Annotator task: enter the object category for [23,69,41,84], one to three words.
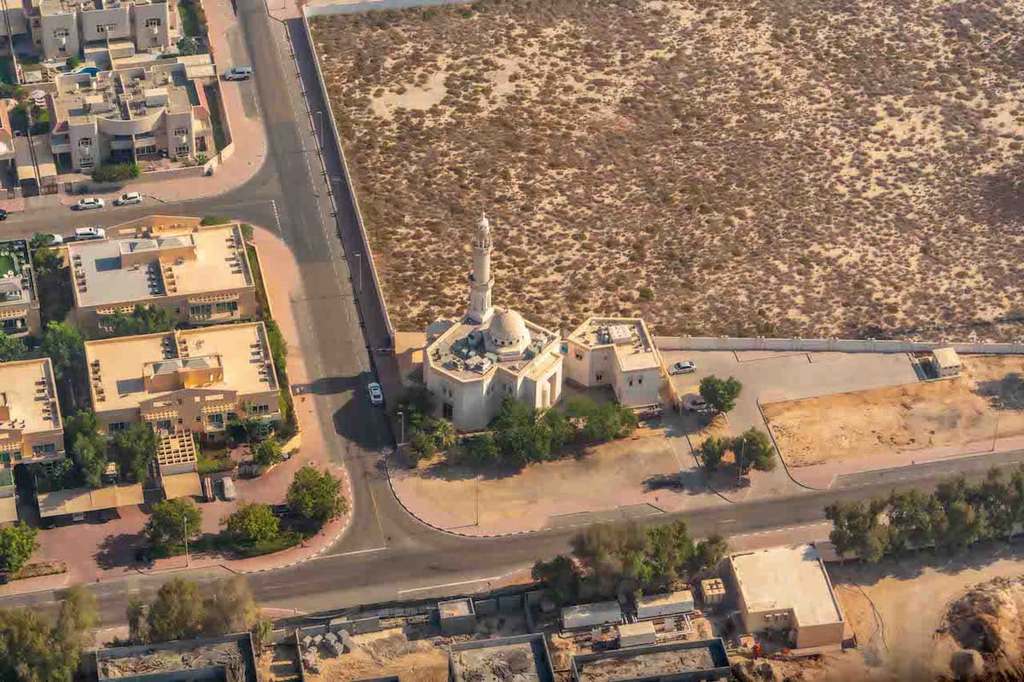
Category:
gazebo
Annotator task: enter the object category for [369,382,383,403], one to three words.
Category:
car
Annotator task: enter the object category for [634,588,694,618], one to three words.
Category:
building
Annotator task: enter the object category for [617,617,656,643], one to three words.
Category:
building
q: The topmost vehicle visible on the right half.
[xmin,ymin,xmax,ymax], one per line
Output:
[669,362,698,376]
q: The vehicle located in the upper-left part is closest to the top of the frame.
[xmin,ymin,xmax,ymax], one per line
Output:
[225,66,254,81]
